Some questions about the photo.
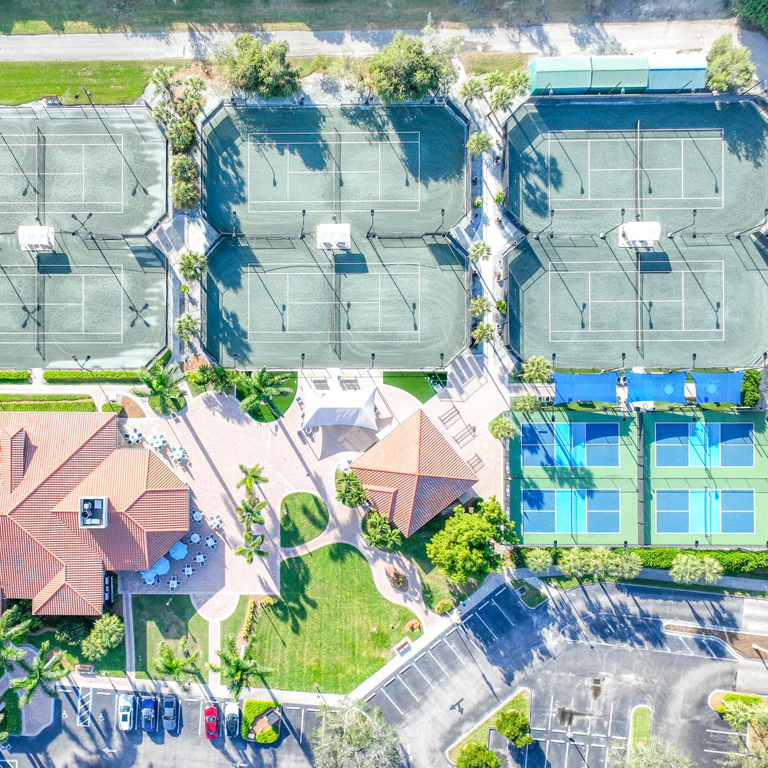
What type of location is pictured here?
sports ground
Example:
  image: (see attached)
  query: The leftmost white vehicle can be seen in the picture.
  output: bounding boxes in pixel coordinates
[118,694,133,730]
